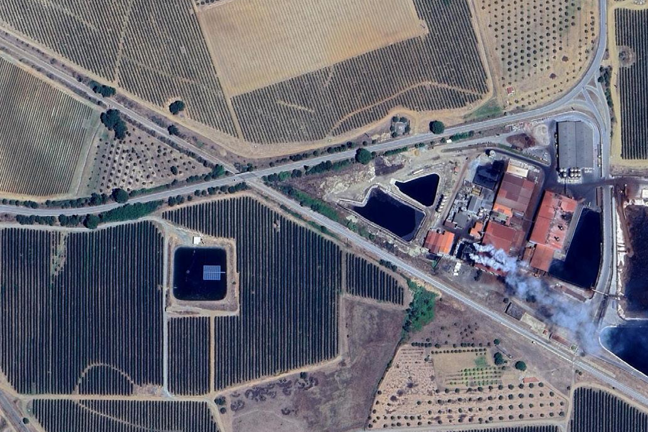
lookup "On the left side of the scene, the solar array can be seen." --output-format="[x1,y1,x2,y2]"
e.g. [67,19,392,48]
[203,266,226,280]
